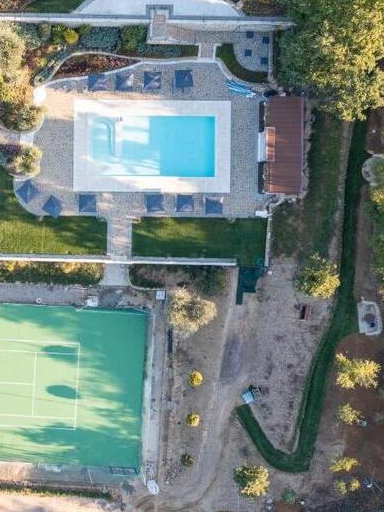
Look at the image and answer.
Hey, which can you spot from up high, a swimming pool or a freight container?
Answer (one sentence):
Looking from above, you can make out a swimming pool.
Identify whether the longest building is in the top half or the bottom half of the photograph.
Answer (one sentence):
You can find the longest building in the top half.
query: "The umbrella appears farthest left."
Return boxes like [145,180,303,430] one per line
[14,178,40,204]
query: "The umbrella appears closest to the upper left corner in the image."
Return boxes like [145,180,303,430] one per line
[86,72,105,91]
